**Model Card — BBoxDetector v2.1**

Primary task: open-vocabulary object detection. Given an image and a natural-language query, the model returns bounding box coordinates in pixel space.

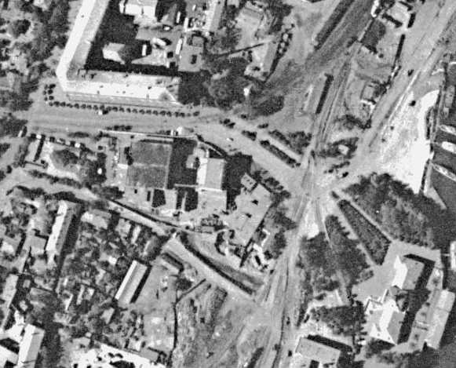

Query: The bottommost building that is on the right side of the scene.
[294,336,343,368]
